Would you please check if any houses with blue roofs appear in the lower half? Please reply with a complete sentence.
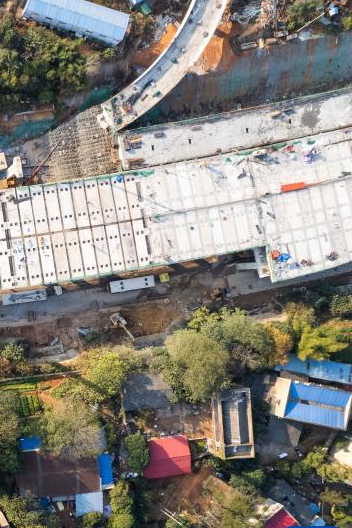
Yes, a house with a blue roof appears in the lower half.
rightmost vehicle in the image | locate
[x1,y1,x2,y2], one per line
[155,271,174,283]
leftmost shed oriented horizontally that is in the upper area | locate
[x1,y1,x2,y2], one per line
[21,0,131,48]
